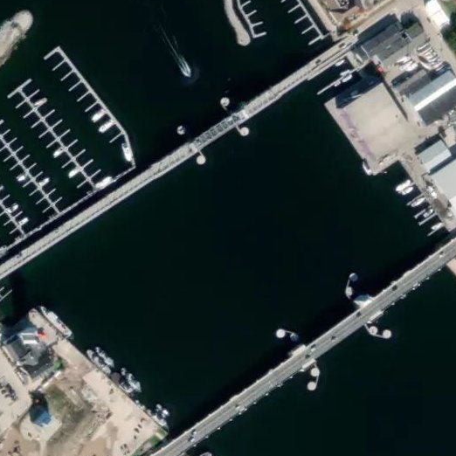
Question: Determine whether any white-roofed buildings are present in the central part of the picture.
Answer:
No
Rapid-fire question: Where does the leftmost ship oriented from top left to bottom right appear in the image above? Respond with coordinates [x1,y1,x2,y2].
[40,308,73,340]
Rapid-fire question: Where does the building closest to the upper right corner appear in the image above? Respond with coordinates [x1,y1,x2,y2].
[425,0,448,29]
